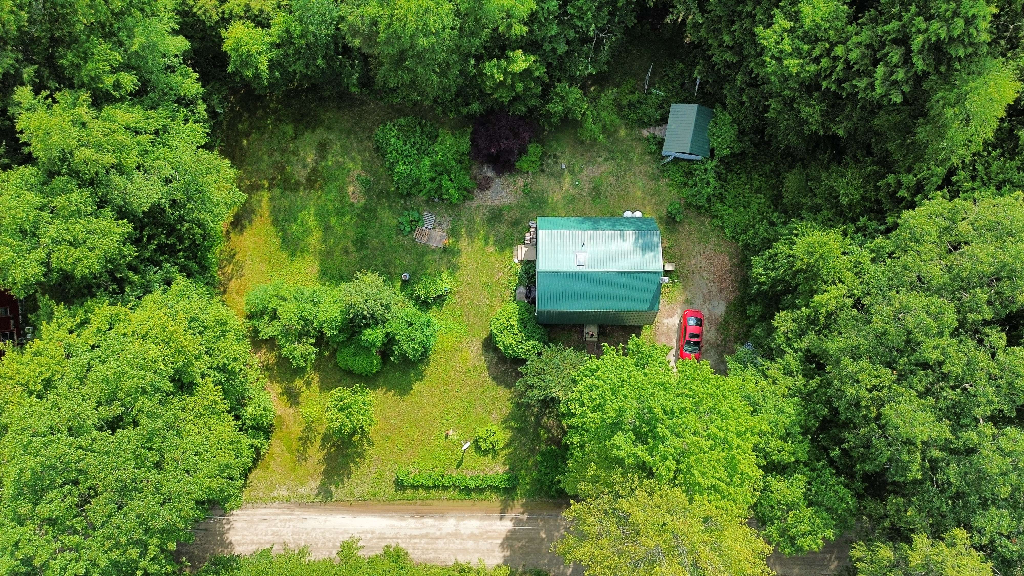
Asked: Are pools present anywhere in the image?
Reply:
No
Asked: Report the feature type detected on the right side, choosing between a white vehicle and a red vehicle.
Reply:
red vehicle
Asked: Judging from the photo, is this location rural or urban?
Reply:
rural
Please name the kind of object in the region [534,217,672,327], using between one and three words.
house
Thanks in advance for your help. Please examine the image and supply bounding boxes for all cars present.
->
[678,310,706,368]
